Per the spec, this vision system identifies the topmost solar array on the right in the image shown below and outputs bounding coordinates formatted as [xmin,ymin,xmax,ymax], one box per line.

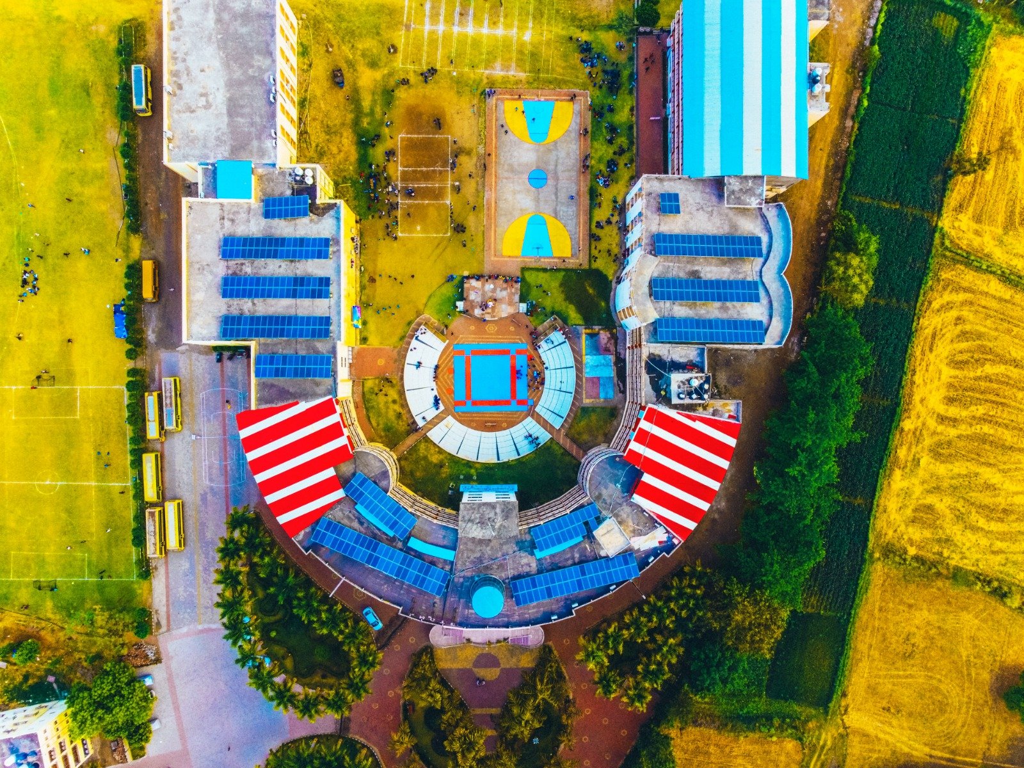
[658,193,680,214]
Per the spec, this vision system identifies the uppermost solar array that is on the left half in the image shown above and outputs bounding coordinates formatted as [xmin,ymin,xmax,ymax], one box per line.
[264,196,309,219]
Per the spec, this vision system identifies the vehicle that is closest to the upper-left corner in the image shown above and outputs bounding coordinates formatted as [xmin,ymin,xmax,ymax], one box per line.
[131,65,153,118]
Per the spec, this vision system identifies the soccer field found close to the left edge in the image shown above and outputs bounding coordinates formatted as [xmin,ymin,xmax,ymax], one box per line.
[0,386,137,580]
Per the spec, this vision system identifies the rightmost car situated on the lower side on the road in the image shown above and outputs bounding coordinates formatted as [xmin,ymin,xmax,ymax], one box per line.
[363,605,381,629]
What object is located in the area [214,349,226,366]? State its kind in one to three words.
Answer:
vehicle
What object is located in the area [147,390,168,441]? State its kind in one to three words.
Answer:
bus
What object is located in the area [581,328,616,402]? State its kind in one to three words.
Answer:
sports court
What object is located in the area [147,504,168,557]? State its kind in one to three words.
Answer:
bus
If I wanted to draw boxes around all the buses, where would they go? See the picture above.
[145,450,166,502]
[142,260,163,303]
[166,497,187,550]
[163,376,184,431]
[147,504,168,557]
[131,65,153,118]
[147,390,168,441]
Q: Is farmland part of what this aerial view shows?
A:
Yes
